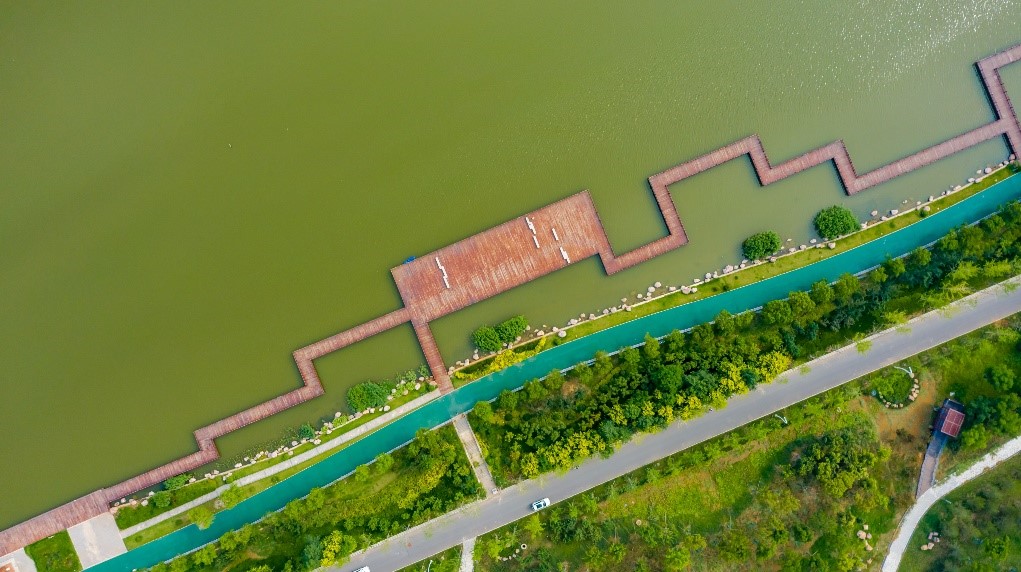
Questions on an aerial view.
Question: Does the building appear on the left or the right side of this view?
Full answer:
It is on the right.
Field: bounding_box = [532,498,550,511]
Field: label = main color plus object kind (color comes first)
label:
white vehicle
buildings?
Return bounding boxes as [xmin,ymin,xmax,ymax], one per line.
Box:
[931,399,965,437]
